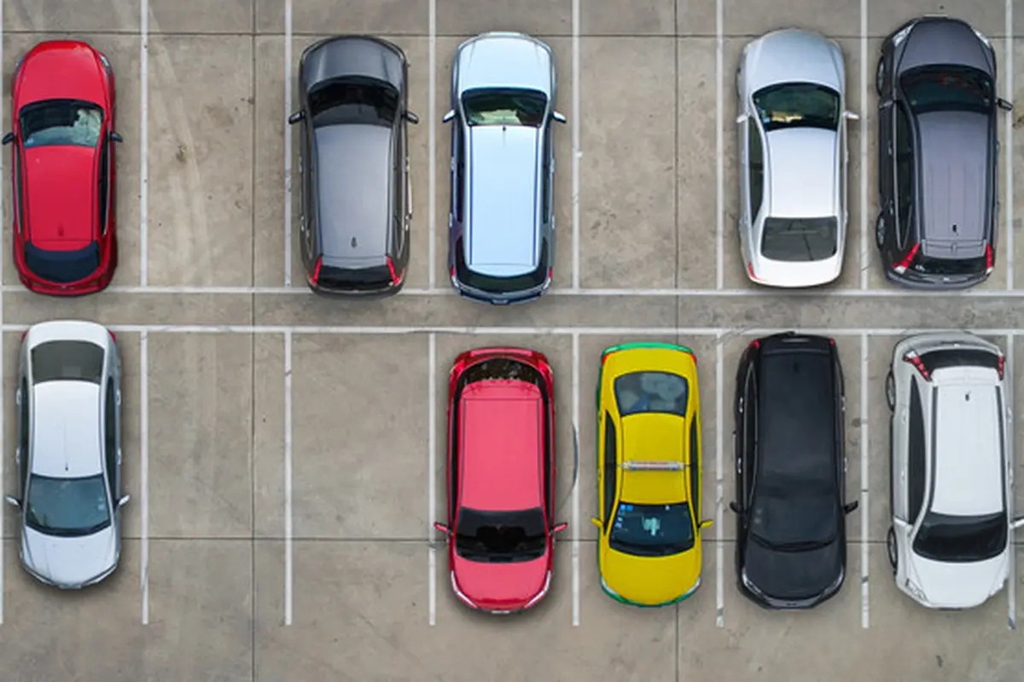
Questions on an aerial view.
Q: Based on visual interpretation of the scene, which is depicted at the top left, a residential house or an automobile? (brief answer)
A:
automobile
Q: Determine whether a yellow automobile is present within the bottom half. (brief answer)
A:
Yes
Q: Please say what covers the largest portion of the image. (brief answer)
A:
paved ground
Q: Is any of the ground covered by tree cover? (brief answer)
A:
No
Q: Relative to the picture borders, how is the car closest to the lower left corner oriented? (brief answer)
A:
from top to bottom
